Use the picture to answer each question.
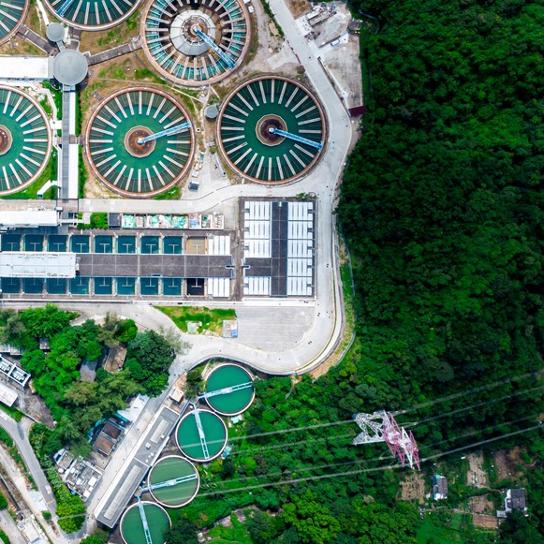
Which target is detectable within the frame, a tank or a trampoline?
tank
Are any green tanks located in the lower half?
Yes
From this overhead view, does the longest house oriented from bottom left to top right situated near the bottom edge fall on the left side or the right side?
left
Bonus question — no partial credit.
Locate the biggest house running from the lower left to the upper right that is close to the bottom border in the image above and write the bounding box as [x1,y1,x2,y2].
[91,401,180,528]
